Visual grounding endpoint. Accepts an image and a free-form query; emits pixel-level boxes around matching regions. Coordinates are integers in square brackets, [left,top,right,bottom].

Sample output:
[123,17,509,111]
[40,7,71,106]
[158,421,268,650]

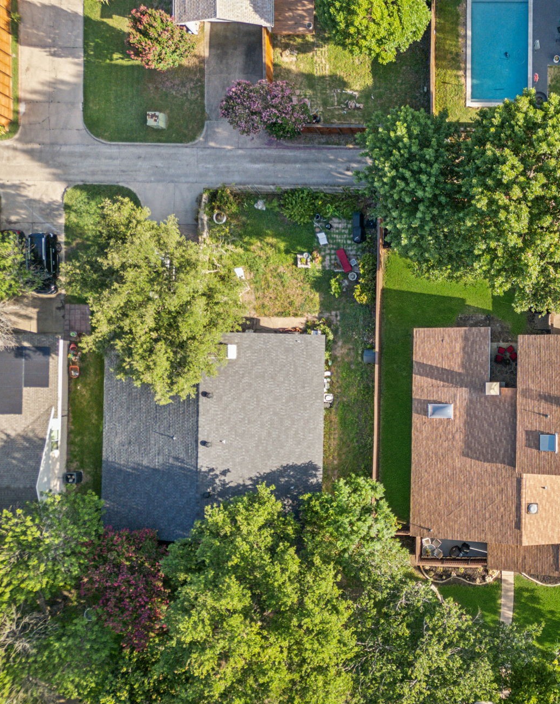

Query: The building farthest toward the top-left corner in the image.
[173,0,281,47]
